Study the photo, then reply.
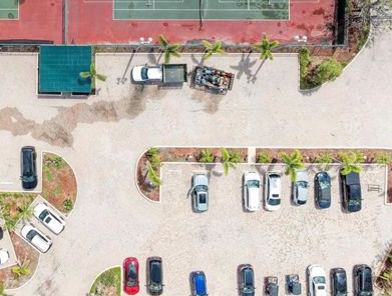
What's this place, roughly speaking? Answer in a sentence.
What you see here is a parking lot.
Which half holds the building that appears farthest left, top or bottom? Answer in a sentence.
The top half of the photo is where the building that appears farthest left is.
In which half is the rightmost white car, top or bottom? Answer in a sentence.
The rightmost white car sits in the bottom half of the picture.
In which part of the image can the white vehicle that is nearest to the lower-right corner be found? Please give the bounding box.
[306,263,327,296]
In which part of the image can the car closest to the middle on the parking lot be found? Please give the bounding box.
[186,173,208,212]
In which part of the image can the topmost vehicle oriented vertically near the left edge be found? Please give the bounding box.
[19,147,38,191]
